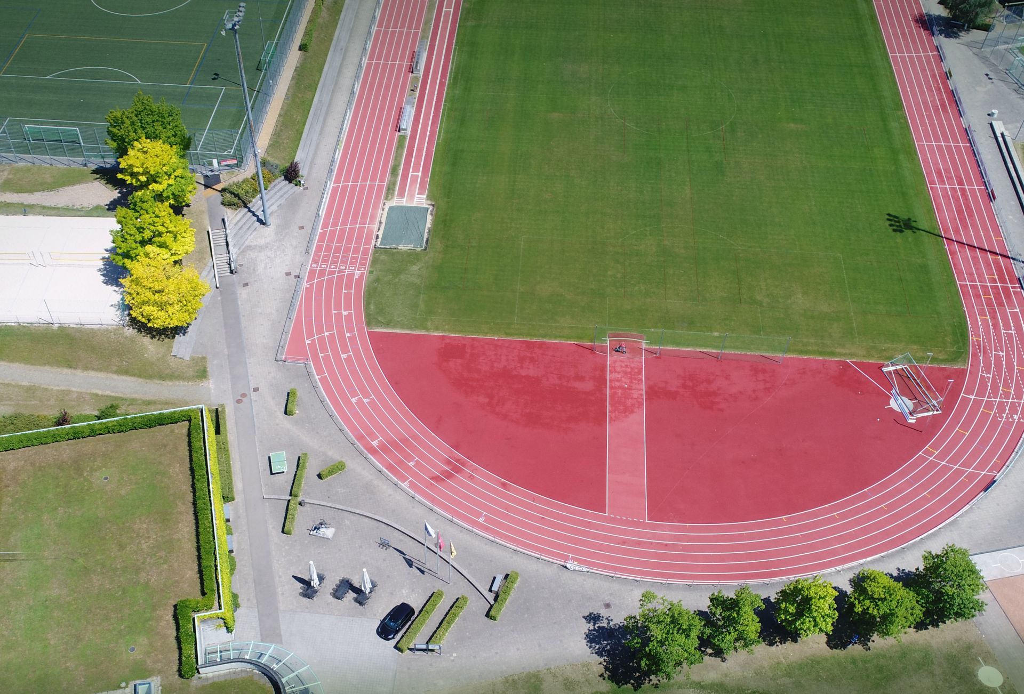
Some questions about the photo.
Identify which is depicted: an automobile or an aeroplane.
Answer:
automobile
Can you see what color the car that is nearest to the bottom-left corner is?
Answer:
black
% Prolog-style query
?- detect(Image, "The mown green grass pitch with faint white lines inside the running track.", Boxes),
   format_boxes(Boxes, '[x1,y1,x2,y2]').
[365,0,970,368]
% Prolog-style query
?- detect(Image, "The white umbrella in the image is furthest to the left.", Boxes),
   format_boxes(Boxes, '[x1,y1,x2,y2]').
[307,561,319,591]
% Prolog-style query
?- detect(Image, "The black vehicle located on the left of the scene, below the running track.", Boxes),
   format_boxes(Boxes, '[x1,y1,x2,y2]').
[377,600,416,642]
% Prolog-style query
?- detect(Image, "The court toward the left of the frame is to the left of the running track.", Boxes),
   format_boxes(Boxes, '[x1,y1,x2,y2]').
[0,215,127,326]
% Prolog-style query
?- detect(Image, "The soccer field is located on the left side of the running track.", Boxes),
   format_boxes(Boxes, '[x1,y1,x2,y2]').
[0,0,307,174]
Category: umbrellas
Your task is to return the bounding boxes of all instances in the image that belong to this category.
[360,569,373,599]
[307,561,319,591]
